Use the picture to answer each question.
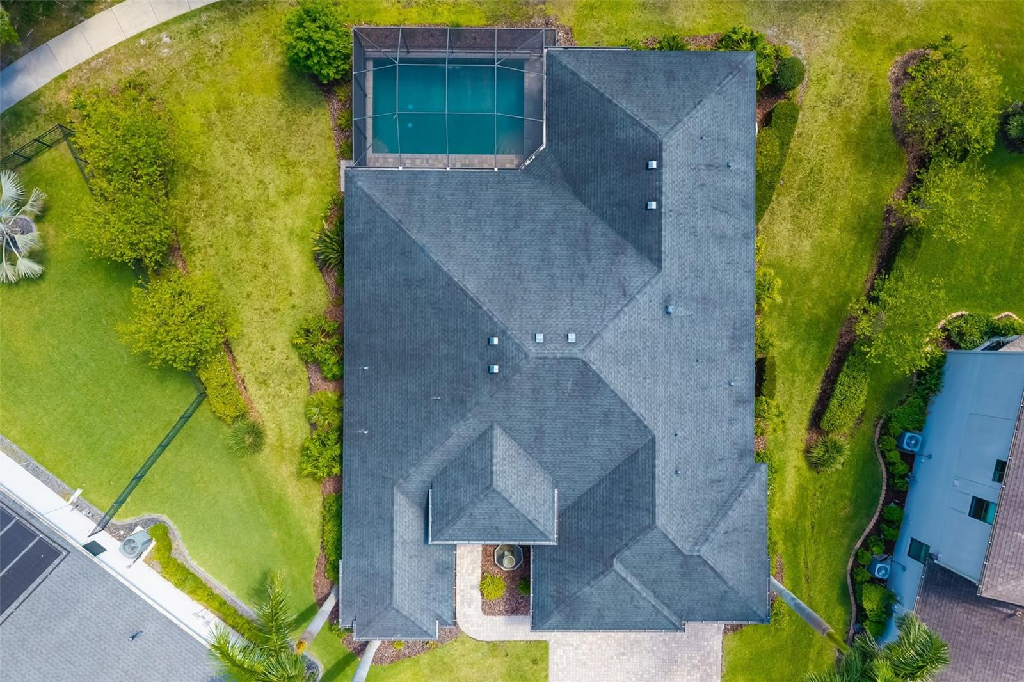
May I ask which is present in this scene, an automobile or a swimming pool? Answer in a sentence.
The one in the frame is a swimming pool.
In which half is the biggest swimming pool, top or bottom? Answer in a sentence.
The biggest swimming pool sits in the top half of the picture.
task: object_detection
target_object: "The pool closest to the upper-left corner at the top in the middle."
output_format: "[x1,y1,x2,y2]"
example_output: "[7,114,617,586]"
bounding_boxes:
[373,60,525,154]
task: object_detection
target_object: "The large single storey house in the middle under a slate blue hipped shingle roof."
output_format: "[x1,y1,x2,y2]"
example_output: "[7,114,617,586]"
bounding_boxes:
[340,47,771,646]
